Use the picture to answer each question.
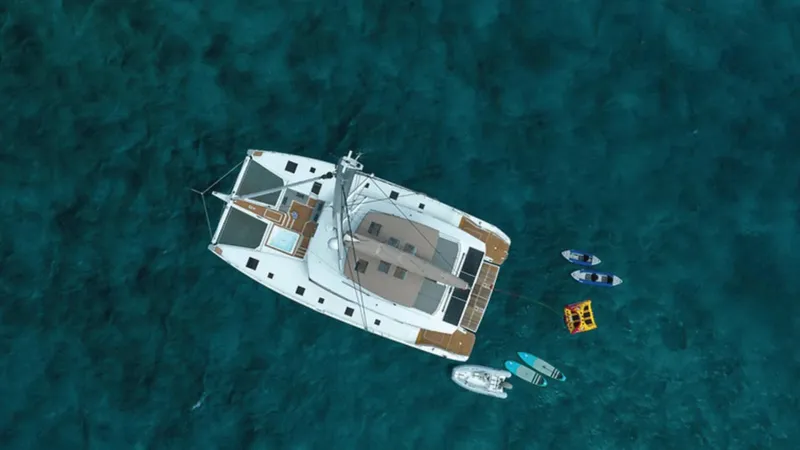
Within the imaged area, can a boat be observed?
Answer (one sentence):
Yes, this view includes a boat.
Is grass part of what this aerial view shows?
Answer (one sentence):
No, the picture contains no grass.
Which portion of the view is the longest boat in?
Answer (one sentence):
The longest boat is in the center part of the image.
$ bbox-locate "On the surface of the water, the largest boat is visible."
[206,148,510,359]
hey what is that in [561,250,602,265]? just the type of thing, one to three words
boat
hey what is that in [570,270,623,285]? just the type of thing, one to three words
boat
